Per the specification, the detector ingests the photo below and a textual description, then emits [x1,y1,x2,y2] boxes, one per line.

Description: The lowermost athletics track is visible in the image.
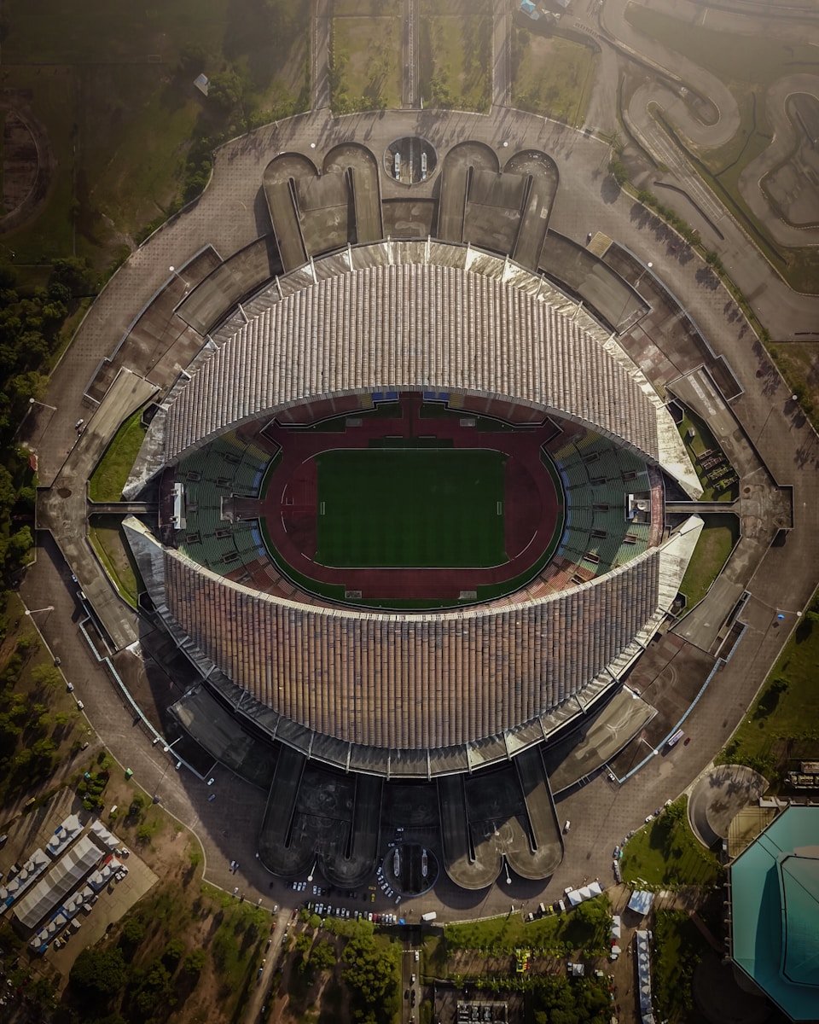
[260,401,564,609]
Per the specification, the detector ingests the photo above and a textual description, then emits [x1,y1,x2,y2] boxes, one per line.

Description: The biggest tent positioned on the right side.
[626,890,655,915]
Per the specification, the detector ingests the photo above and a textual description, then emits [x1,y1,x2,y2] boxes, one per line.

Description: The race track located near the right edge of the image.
[599,0,819,343]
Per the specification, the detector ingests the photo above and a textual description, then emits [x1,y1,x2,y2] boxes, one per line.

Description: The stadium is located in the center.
[122,237,704,780]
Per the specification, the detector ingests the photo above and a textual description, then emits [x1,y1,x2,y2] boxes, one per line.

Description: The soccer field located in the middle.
[318,449,504,567]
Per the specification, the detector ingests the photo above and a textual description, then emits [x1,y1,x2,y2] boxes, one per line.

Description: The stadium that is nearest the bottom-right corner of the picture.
[715,792,819,1022]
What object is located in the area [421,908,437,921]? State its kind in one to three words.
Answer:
vehicle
